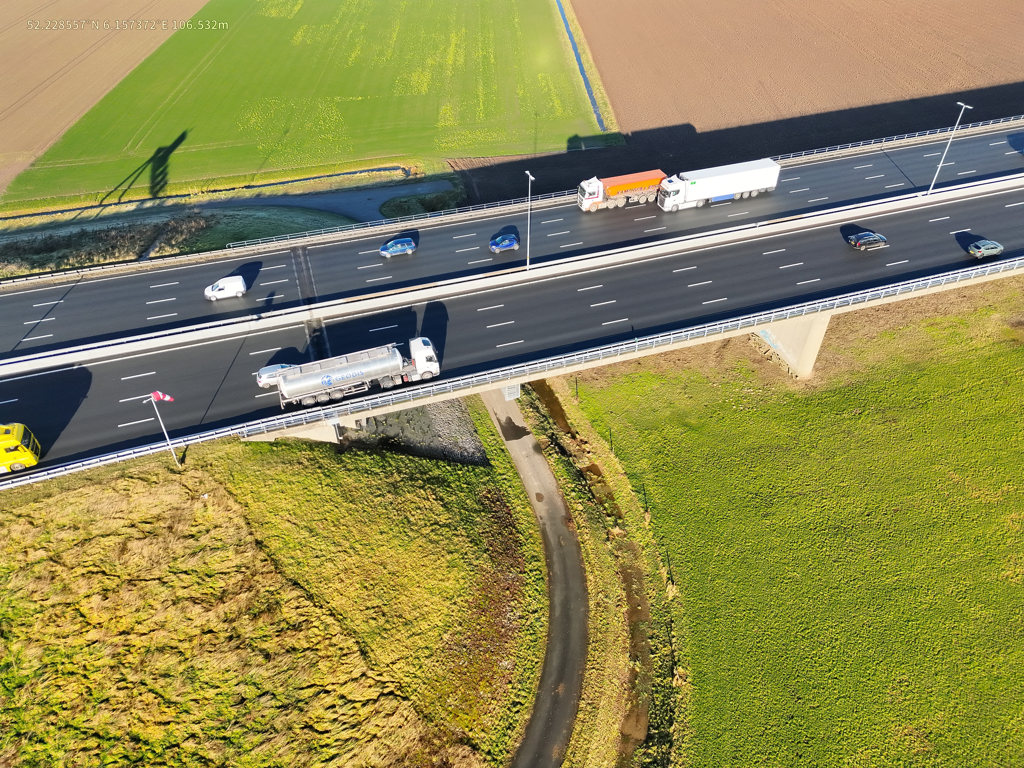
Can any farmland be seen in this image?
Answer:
Yes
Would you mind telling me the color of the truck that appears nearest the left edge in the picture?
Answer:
yellow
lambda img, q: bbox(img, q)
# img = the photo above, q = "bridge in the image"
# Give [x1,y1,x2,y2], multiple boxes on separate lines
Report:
[0,124,1024,445]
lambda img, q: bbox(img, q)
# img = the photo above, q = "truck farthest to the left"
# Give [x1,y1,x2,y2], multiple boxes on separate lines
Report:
[0,423,39,471]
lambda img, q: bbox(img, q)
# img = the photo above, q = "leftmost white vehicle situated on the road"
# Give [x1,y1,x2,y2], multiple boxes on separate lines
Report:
[203,276,243,301]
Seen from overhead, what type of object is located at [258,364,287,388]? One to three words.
car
